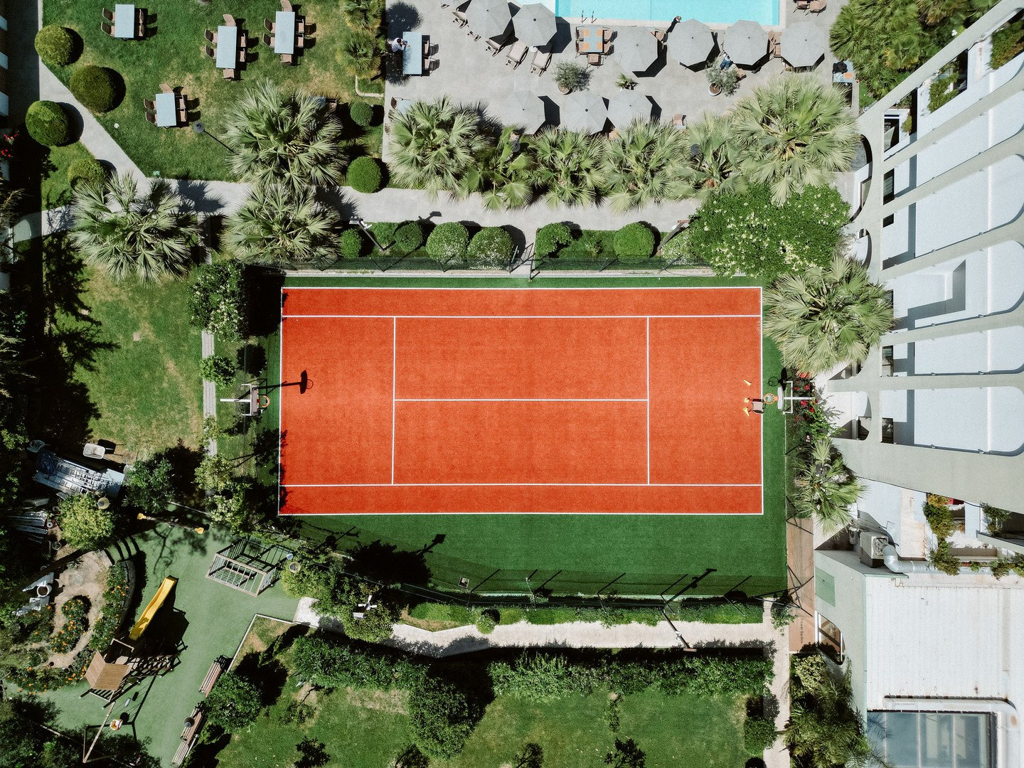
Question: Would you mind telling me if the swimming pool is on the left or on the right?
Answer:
right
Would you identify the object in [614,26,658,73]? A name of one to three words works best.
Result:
umbrella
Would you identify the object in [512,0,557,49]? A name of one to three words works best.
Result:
umbrella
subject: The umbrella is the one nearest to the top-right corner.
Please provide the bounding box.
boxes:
[780,21,825,68]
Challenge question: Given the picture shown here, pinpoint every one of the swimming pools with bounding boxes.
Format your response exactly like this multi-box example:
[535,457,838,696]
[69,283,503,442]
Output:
[557,0,779,25]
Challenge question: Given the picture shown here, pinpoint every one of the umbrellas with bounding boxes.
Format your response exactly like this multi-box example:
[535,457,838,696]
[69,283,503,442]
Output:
[780,21,825,68]
[614,26,658,73]
[726,19,768,62]
[564,90,608,133]
[512,0,557,49]
[502,90,545,133]
[667,17,715,67]
[608,87,650,130]
[465,0,511,41]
